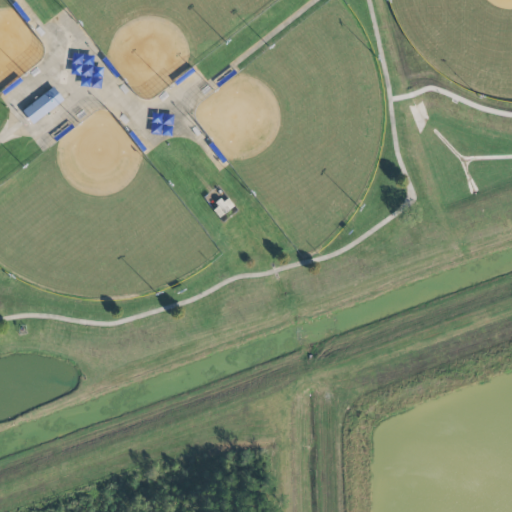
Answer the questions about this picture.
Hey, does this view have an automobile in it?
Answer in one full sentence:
No, I can see no automobile in this picture.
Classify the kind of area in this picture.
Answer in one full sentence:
It's a sports ground.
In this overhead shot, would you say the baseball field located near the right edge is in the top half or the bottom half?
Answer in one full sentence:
You can find the baseball field located near the right edge in the top half.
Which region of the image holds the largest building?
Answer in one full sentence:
The largest building sits in the top left section of the image.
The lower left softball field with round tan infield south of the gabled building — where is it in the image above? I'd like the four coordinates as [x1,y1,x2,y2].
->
[0,110,219,300]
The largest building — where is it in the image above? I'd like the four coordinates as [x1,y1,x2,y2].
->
[24,87,64,124]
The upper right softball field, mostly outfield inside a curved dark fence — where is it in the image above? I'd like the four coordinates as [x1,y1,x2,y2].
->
[388,0,512,100]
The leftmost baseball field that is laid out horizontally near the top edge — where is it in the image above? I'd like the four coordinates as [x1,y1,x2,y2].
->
[60,0,283,98]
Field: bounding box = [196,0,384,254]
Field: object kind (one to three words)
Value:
baseball field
